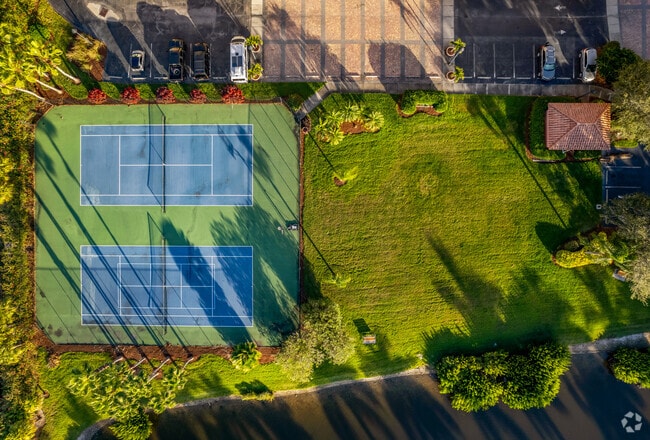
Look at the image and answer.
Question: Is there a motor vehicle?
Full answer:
Yes, looking at the shot, I can spot a motor vehicle.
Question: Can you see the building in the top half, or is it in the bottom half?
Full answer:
You can find the building in the top half.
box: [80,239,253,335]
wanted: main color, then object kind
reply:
blue tennis court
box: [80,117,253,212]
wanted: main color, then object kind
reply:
blue tennis court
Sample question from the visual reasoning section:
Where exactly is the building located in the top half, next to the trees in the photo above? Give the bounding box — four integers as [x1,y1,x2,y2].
[545,102,613,150]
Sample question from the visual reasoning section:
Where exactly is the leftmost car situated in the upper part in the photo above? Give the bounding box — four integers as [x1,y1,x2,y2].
[128,51,145,73]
